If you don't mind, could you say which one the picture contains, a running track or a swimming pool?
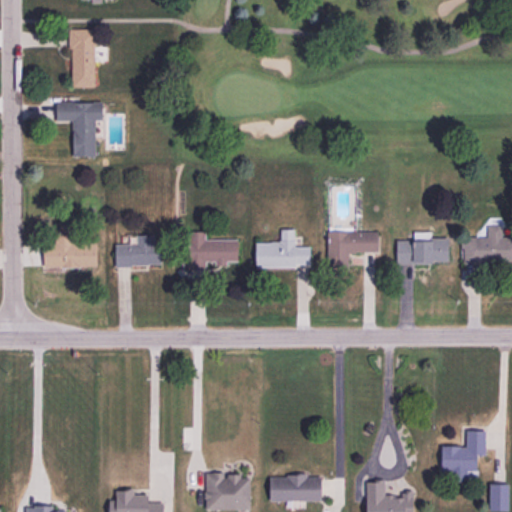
swimming pool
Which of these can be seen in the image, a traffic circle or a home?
home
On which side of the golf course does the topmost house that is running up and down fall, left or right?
to its left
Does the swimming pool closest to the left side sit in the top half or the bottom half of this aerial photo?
top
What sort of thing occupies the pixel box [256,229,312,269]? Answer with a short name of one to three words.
house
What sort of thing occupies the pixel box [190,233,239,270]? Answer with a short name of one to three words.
house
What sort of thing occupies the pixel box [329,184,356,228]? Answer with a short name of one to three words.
swimming pool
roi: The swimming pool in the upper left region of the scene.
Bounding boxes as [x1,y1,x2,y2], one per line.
[106,113,126,151]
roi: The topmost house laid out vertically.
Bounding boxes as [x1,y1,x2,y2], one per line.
[69,29,96,88]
